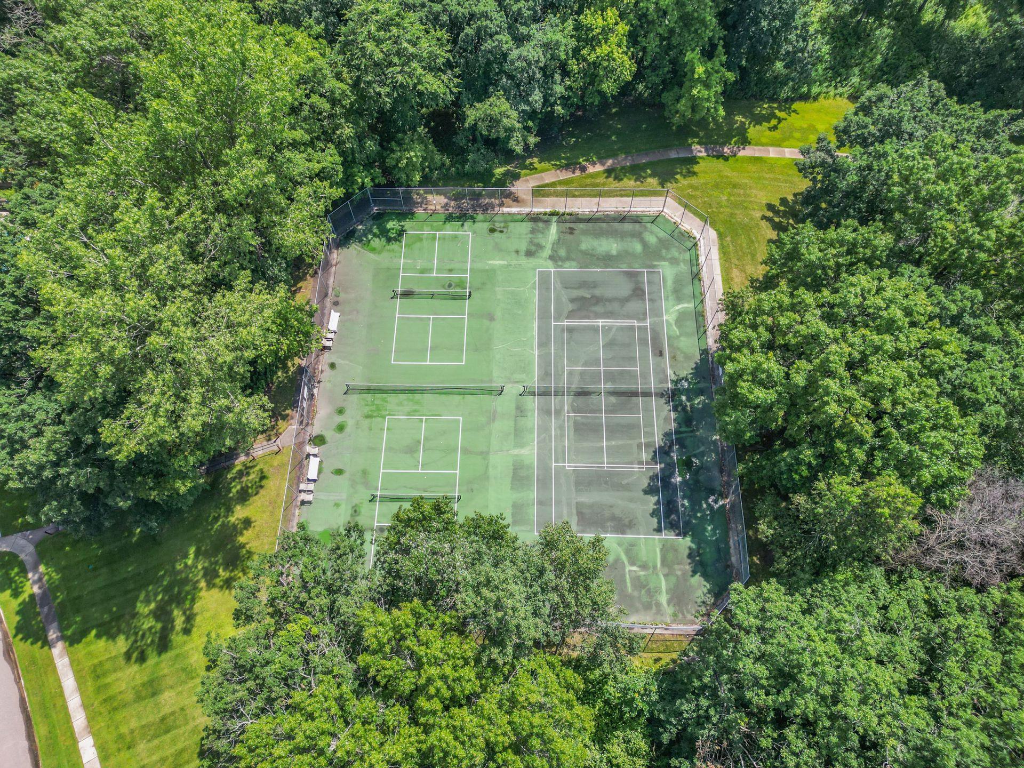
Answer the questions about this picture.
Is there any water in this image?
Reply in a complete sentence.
No, the picture contains no water.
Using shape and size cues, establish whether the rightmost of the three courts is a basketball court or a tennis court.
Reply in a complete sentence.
What you see as the rightmost of the three courts is a tennis court.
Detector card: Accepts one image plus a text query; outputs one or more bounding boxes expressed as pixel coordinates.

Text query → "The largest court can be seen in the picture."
[535,269,682,537]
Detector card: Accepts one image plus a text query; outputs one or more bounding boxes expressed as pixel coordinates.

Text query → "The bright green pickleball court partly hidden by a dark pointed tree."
[369,417,461,588]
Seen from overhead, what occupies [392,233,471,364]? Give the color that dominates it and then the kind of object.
green sports court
